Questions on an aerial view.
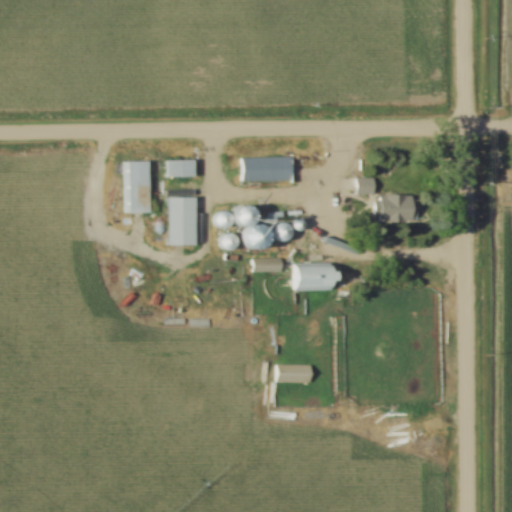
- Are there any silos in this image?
Yes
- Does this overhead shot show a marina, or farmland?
farmland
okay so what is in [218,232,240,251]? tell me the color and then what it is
white silo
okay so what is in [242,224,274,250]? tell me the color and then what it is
white silo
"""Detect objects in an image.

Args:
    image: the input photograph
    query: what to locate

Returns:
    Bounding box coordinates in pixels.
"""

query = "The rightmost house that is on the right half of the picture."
[376,192,416,224]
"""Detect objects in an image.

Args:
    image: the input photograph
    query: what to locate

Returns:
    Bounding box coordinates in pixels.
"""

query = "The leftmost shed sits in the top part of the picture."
[123,160,152,214]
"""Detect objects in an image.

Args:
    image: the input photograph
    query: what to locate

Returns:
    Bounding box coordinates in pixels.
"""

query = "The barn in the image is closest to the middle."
[250,258,284,273]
